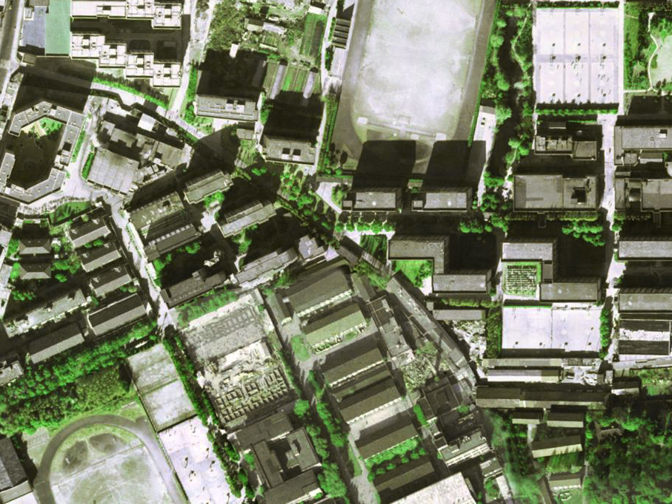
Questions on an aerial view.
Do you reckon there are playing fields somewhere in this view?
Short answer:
Yes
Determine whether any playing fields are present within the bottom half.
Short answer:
Yes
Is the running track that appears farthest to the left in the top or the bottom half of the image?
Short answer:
bottom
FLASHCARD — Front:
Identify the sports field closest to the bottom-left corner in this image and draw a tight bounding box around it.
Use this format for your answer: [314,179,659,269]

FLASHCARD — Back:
[58,437,177,504]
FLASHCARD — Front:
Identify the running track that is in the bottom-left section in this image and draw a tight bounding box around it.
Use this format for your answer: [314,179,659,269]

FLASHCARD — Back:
[38,414,184,504]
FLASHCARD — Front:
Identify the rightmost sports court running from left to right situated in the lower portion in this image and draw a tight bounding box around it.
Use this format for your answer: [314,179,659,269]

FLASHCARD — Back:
[503,308,601,350]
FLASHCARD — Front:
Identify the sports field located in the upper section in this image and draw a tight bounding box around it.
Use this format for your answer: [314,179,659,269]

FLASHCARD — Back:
[350,0,486,133]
